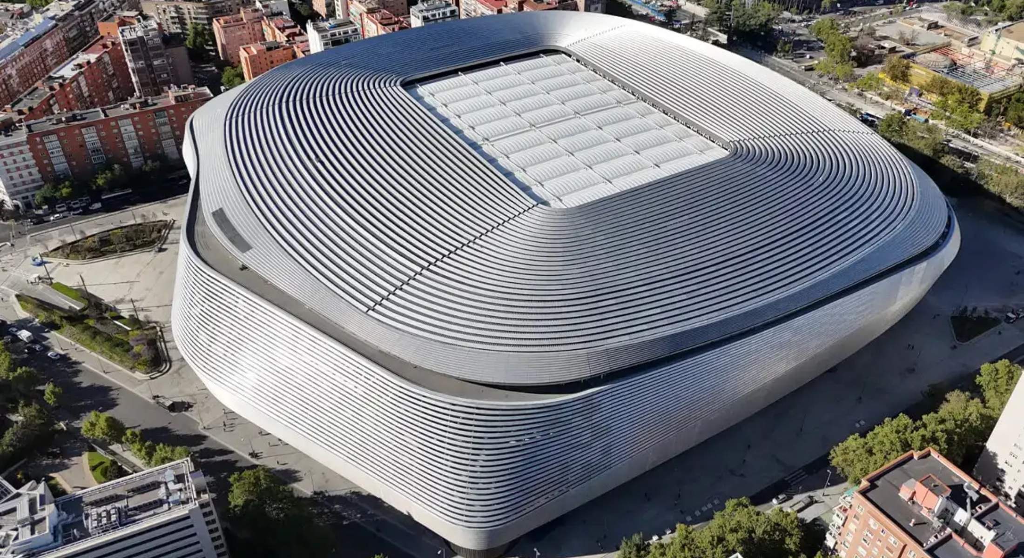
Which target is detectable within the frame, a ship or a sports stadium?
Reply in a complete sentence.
It is a sports stadium that can be seen here.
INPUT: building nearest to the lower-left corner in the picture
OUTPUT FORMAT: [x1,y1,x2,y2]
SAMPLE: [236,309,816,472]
[0,458,228,558]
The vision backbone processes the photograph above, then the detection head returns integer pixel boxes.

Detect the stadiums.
[174,11,960,553]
